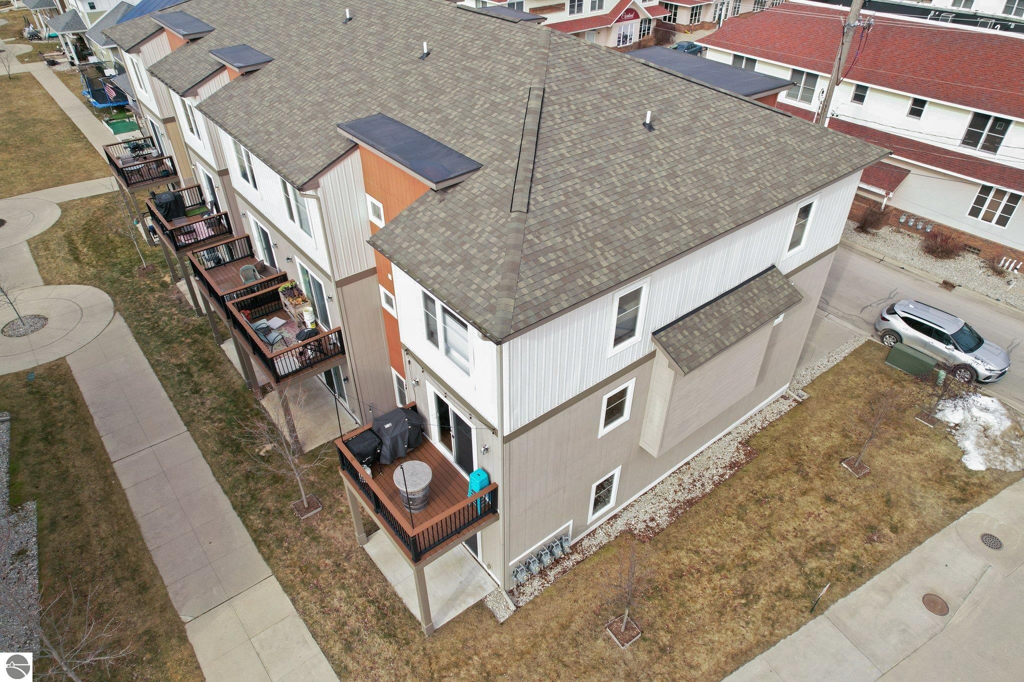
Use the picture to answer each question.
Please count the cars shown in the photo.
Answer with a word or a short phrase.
two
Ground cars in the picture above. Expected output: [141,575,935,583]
[872,295,1019,386]
[672,33,708,55]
